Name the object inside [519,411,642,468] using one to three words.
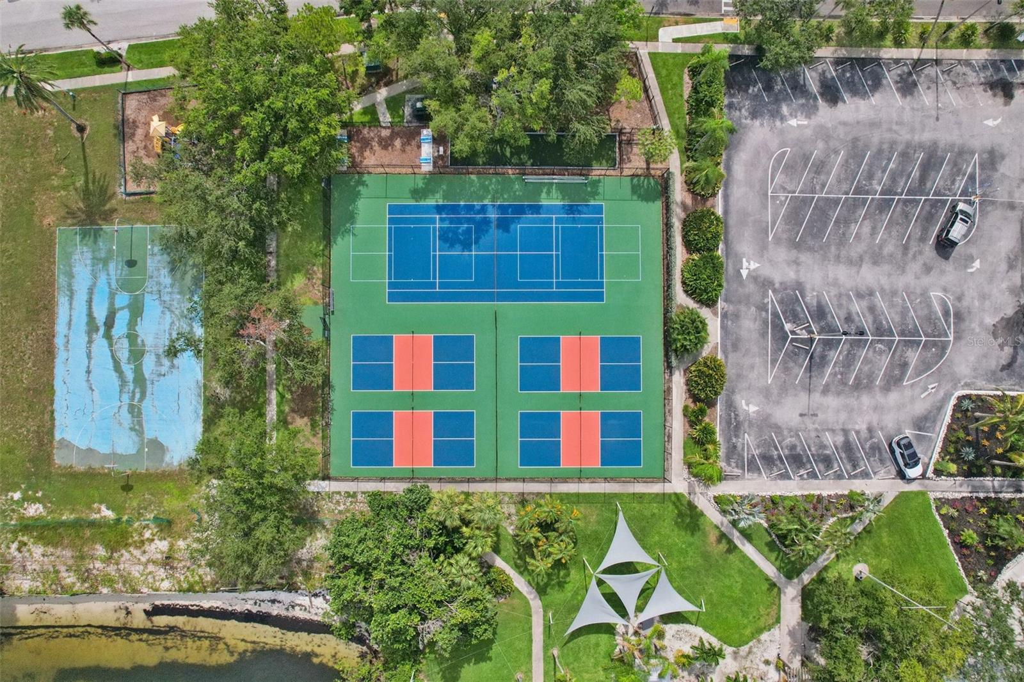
sports court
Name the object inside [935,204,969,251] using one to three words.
car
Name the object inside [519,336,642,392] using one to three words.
sports court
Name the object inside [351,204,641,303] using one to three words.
tennis court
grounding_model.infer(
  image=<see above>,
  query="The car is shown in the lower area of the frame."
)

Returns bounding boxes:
[889,432,921,477]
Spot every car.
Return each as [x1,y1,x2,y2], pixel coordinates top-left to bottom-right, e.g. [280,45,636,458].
[935,204,969,251]
[889,432,921,477]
